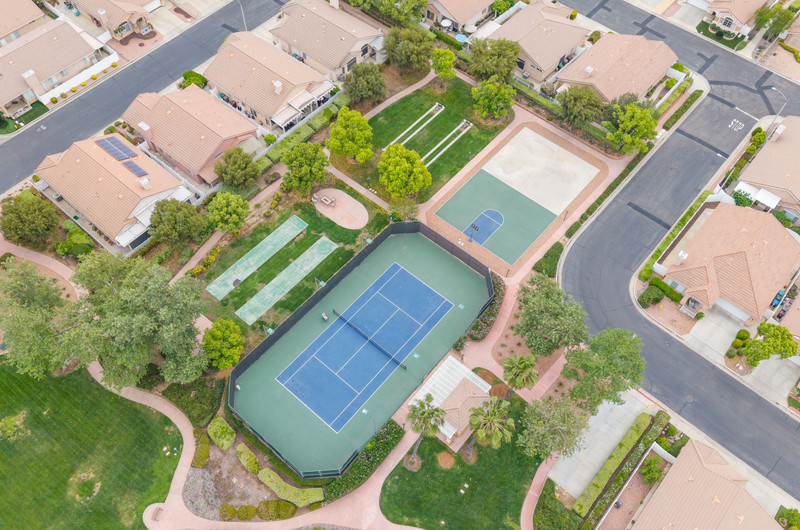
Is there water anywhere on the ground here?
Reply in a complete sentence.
No, water can't be seen anywhere here.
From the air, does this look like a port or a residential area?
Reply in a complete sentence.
What you see here is a residential area.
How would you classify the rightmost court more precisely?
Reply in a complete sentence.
It looks like the rightmost court is a basketball court.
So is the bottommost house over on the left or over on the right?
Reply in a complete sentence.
You can find the bottommost house on the right side of the picture.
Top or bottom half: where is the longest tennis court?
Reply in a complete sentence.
Seen from above, the longest tennis court lies in the bottom half of the view.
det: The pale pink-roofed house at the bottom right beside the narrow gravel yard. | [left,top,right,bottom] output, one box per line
[635,436,784,530]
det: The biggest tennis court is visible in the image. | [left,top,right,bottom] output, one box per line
[232,231,495,478]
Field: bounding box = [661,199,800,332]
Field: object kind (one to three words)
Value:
house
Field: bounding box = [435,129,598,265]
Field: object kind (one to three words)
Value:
basketball court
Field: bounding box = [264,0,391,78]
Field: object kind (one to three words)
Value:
house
